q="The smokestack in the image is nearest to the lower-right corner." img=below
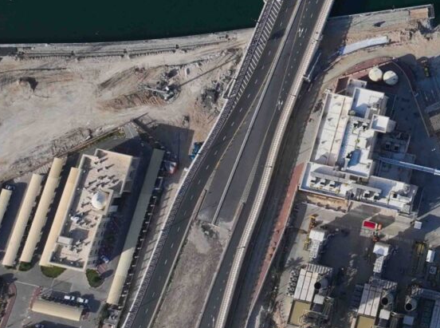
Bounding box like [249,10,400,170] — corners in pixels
[403,297,420,312]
